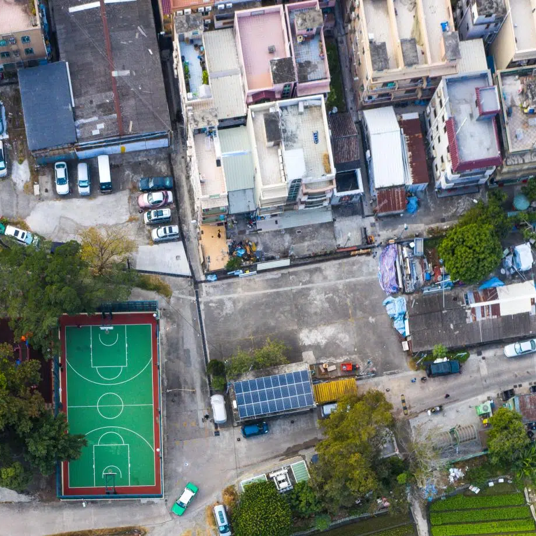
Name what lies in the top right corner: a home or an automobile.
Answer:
home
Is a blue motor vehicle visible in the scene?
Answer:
Yes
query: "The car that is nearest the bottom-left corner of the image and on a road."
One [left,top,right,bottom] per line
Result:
[173,482,199,517]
